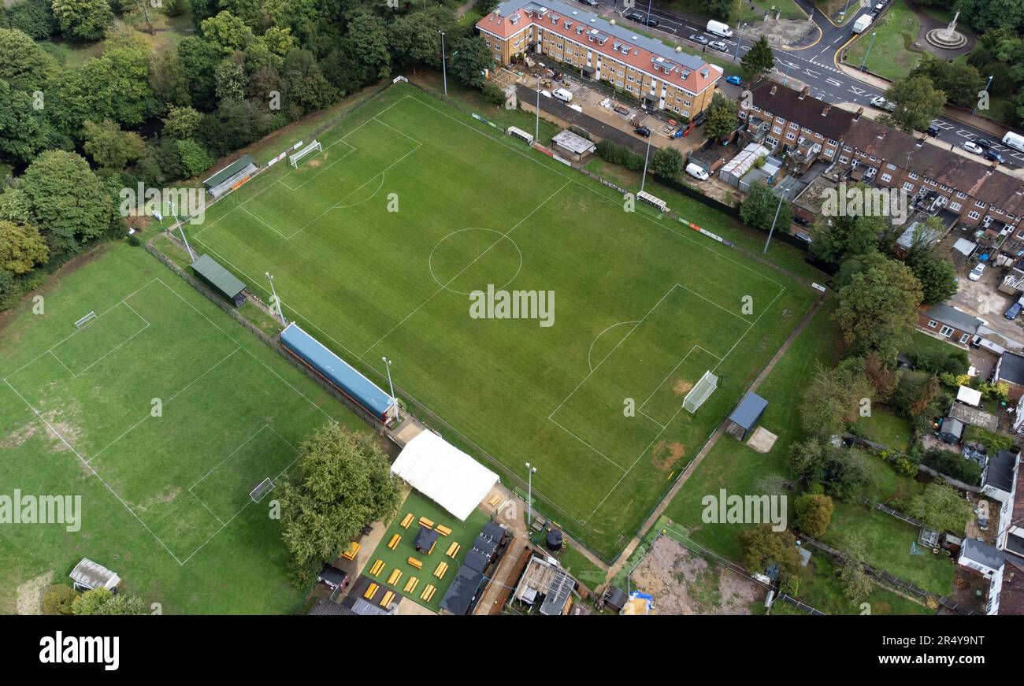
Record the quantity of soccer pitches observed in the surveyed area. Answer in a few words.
2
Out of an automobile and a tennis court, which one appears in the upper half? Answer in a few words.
automobile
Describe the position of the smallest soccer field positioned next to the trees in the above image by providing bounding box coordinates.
[5,277,339,564]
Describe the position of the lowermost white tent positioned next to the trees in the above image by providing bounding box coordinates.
[389,417,501,519]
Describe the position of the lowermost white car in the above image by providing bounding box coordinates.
[967,263,988,279]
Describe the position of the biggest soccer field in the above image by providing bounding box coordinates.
[169,81,821,557]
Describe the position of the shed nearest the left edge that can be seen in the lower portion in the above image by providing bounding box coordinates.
[69,557,122,594]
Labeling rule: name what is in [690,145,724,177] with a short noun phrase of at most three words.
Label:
building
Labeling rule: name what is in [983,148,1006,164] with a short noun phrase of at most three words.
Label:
car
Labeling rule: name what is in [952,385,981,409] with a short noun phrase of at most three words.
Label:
gazebo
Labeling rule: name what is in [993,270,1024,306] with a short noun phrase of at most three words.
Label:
shed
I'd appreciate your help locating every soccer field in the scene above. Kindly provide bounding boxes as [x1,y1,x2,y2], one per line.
[5,277,339,564]
[169,81,821,557]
